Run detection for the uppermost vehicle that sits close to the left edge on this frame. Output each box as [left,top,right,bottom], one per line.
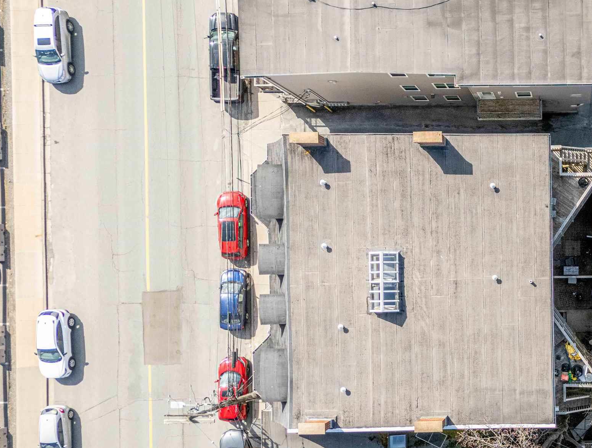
[27,8,73,84]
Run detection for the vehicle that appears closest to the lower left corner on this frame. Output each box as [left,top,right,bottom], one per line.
[31,402,73,448]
